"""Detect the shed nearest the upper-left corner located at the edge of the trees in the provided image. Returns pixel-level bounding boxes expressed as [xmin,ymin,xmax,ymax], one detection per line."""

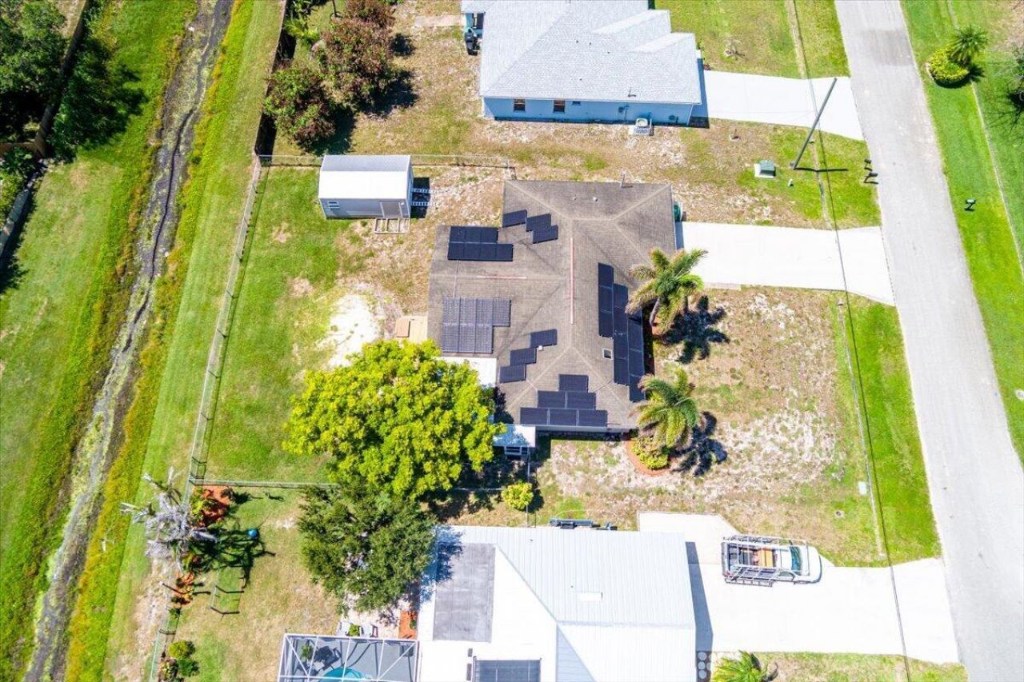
[317,154,415,220]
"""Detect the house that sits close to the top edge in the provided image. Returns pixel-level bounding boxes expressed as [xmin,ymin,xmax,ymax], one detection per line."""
[461,0,701,125]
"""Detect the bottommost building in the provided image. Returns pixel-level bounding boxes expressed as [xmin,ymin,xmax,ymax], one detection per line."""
[413,525,699,682]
